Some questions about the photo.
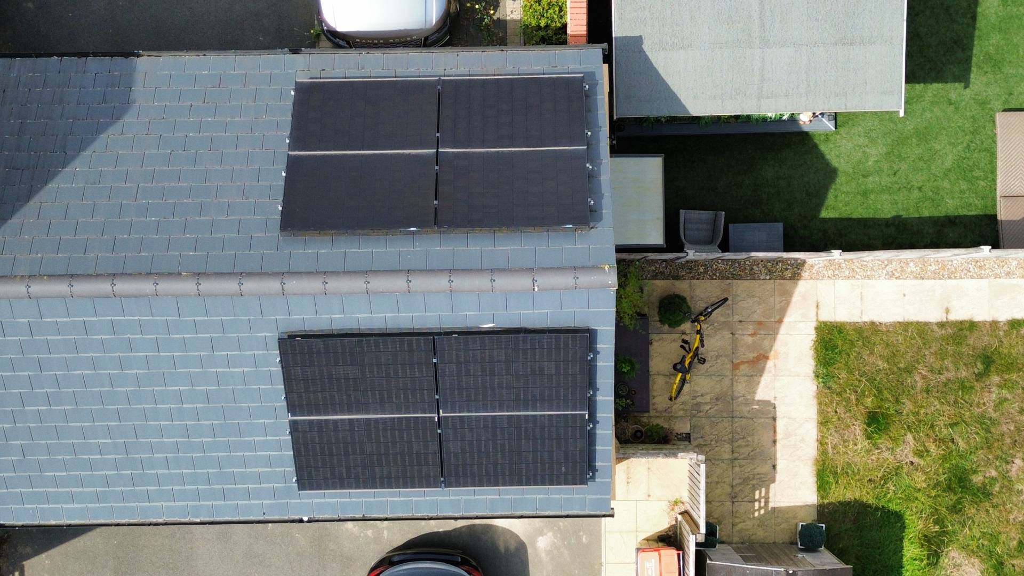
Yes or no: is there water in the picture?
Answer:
No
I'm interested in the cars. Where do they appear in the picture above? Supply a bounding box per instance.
[318,0,459,50]
[371,549,490,576]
